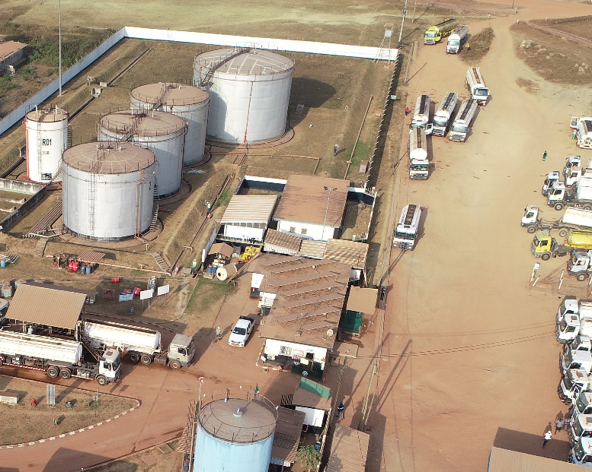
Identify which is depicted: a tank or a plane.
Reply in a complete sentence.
This aerial view contains a tank.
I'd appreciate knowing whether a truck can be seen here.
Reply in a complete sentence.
Yes, the image includes a truck.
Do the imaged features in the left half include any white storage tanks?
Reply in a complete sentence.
Yes, looking in the left half, one can make out a white storage tank.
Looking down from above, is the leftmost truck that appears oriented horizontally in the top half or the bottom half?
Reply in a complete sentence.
The leftmost truck that appears oriented horizontally sits in the bottom half of the picture.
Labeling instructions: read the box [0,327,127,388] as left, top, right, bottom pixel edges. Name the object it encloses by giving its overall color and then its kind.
white truck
